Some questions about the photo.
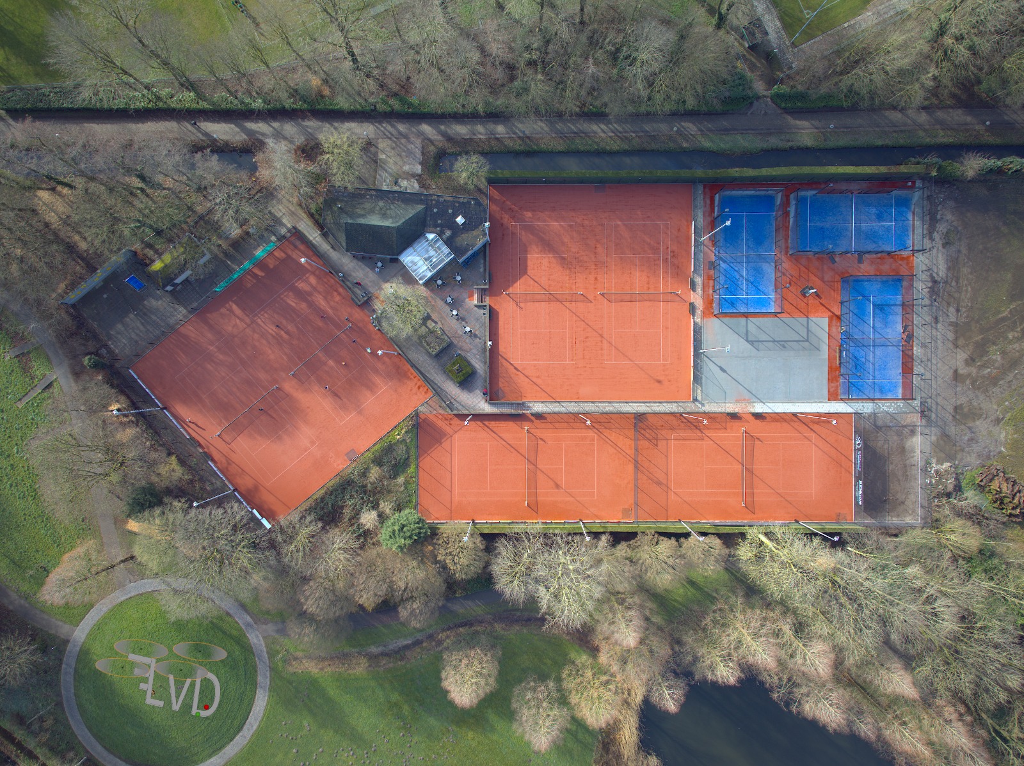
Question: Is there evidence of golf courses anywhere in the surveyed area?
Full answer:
No, no golf course is visible in the view.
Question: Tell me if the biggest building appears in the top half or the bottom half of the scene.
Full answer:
Seen from above, the biggest building lies in the top half of the view.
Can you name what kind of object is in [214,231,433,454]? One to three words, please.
tennis court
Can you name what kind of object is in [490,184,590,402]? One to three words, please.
tennis court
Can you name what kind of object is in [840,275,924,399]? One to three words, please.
sports court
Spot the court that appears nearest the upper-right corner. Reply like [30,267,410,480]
[791,182,924,255]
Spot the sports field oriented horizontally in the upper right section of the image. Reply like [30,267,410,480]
[775,0,879,45]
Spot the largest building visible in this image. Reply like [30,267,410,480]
[322,185,490,286]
